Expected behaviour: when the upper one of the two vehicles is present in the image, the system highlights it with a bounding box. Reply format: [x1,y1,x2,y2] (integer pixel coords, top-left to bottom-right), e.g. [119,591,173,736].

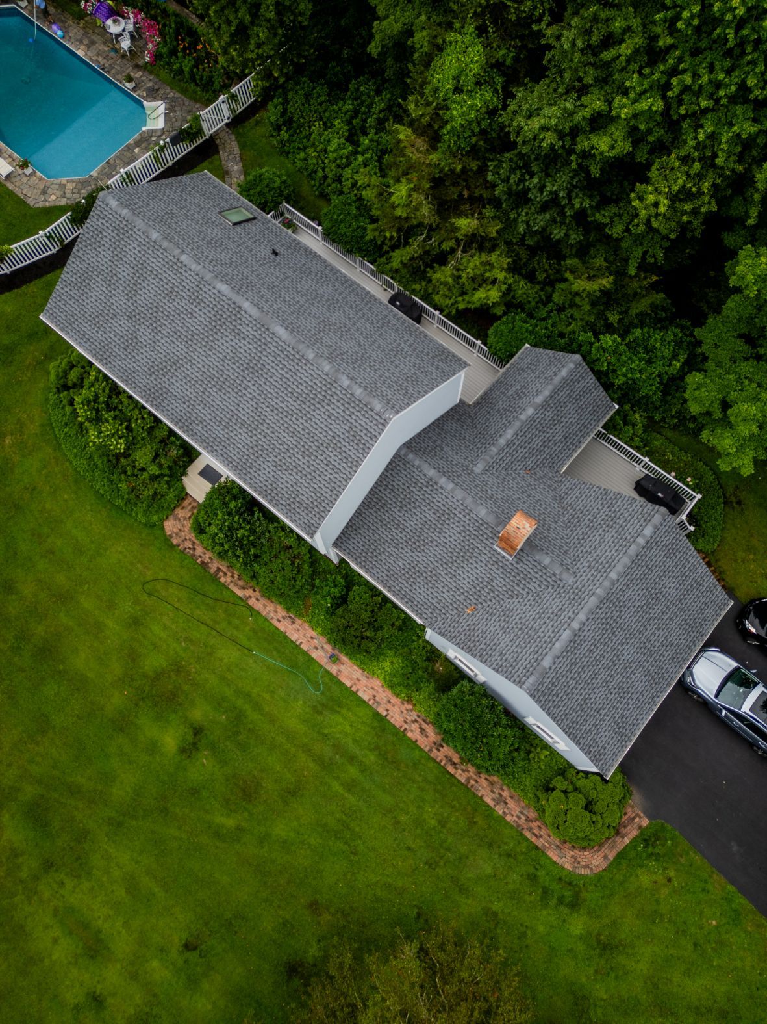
[736,587,767,650]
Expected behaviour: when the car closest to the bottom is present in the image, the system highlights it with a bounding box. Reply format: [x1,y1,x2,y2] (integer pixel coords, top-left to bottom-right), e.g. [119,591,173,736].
[683,643,767,761]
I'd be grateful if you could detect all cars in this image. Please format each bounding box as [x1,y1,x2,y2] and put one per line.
[736,587,767,650]
[683,643,767,761]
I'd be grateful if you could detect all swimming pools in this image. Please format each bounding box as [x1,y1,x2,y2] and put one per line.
[0,5,172,179]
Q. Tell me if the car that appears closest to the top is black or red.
black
